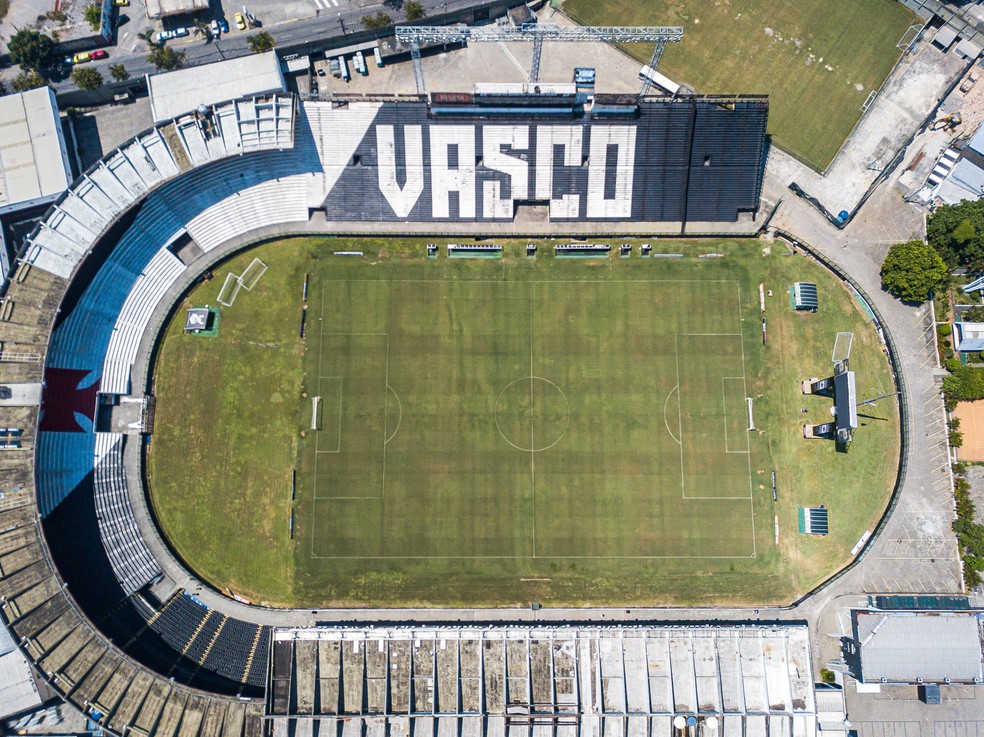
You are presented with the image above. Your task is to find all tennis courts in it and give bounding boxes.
[954,400,984,461]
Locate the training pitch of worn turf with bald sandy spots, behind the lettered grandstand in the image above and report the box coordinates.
[561,0,927,172]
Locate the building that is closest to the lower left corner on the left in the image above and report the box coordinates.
[0,649,60,719]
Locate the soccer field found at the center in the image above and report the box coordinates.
[149,236,899,608]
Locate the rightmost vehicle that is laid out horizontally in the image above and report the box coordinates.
[929,111,966,127]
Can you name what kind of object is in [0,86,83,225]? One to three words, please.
building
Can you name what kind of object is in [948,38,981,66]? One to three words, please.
shed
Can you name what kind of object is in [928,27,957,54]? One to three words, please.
shed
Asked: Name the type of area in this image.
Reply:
sports ground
